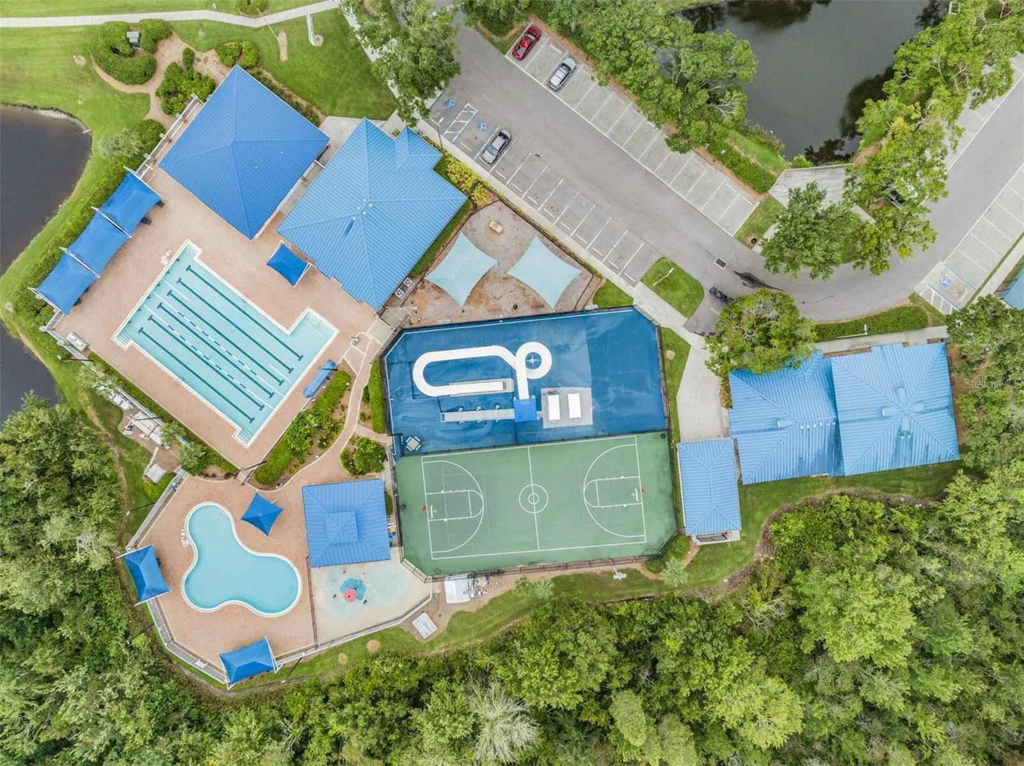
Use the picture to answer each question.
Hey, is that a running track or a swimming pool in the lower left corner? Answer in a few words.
swimming pool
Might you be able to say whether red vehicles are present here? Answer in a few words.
Yes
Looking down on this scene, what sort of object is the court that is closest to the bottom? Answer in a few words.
basketball court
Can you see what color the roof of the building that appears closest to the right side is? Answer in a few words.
blue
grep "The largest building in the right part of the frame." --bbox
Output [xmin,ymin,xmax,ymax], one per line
[728,337,961,486]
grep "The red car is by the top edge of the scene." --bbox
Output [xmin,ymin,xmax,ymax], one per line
[511,26,542,64]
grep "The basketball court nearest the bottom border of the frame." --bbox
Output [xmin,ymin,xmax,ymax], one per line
[397,432,677,576]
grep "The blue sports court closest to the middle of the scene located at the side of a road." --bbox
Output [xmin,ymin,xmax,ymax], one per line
[383,306,666,460]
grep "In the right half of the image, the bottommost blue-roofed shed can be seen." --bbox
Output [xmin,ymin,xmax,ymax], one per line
[677,438,741,542]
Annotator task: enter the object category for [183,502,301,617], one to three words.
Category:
swimming pool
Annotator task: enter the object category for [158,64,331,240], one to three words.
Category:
building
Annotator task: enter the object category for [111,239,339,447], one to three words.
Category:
swimming pool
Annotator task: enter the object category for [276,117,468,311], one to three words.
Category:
building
